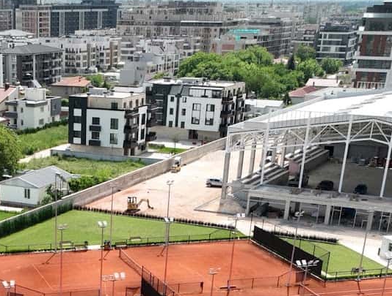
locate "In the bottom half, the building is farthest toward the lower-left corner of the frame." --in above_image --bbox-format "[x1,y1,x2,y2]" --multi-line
[0,167,78,210]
